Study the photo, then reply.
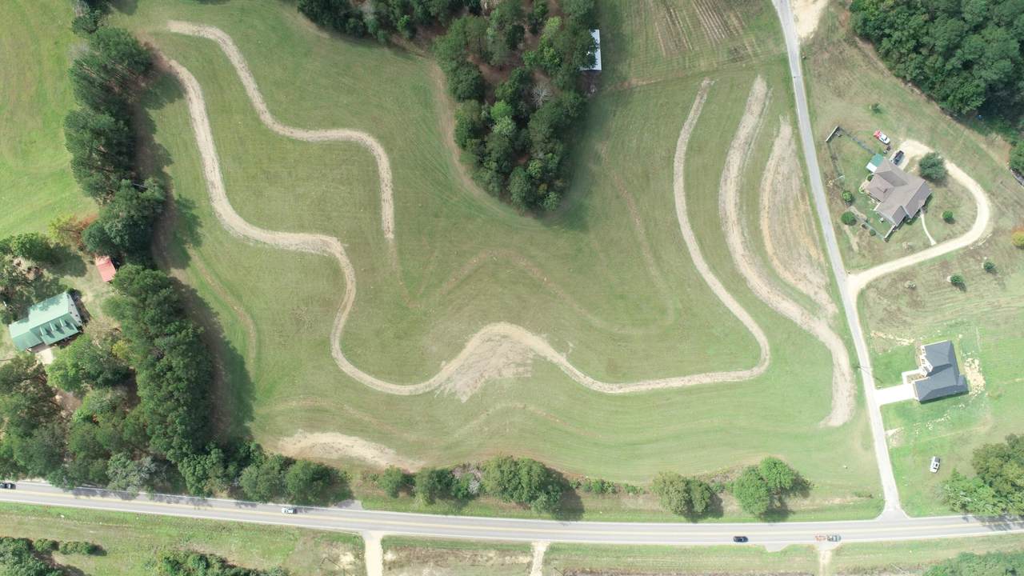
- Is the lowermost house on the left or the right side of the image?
right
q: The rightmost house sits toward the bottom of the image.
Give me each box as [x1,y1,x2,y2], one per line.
[910,338,970,406]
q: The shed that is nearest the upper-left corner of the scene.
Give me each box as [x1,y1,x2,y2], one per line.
[94,257,115,282]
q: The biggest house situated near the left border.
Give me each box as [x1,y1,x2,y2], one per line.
[9,292,87,351]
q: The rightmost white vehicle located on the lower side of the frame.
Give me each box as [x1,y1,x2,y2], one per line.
[928,455,940,473]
